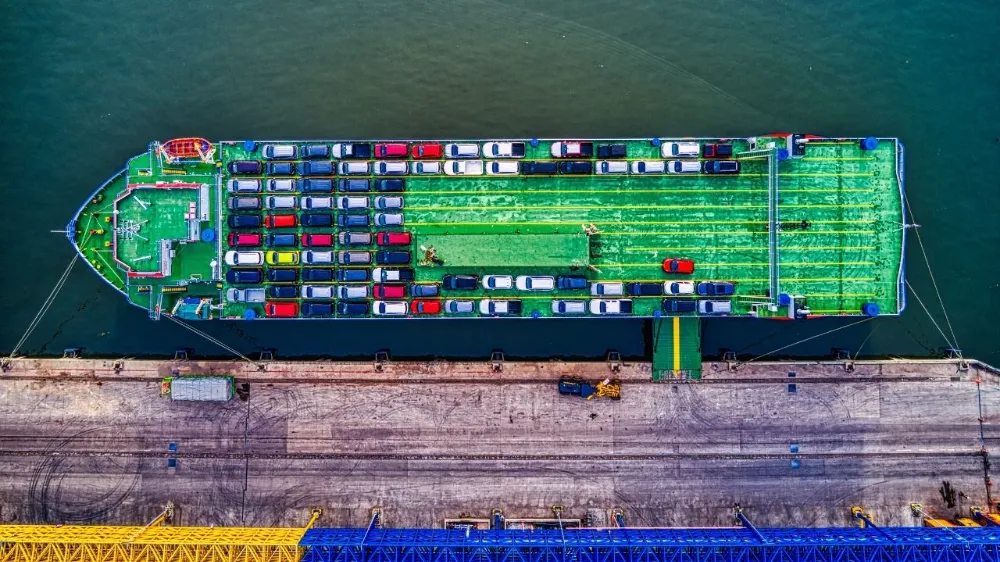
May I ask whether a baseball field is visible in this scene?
No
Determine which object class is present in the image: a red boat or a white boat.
red boat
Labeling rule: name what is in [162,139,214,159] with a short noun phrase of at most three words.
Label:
boat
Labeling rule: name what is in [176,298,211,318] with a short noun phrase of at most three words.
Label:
boat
